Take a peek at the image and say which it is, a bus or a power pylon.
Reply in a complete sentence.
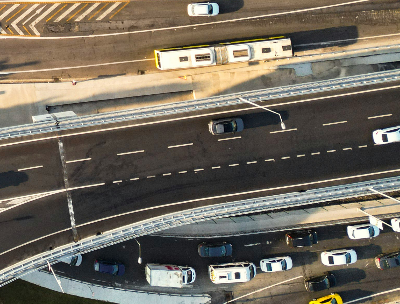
Visible in the photo is a bus.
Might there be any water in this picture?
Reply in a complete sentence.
No, there's no water in this view.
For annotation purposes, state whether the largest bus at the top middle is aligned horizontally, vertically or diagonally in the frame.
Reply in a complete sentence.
The largest bus at the top middle is laid out horizontally.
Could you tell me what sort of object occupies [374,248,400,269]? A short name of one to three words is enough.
car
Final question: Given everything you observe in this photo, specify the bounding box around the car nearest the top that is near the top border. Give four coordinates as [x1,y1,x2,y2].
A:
[185,1,219,17]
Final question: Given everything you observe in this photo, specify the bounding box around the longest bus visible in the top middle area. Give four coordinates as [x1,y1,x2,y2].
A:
[151,38,297,71]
